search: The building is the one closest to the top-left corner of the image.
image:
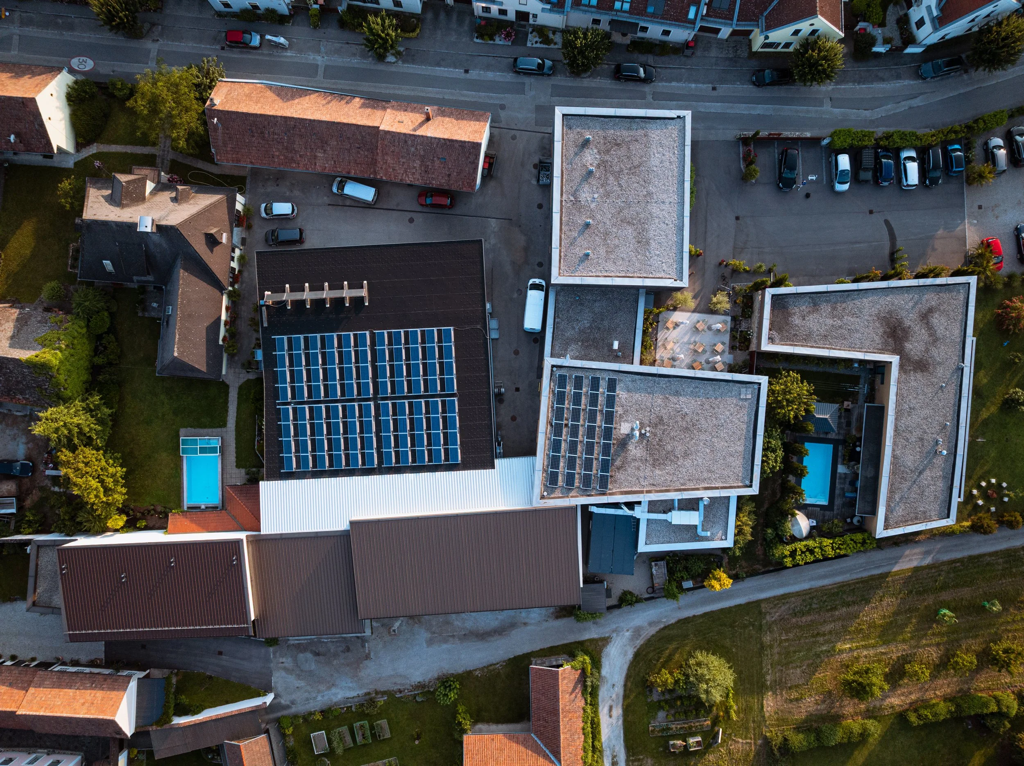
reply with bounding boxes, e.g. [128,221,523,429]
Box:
[0,62,82,164]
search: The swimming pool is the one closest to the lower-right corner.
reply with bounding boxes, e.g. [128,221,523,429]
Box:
[794,435,845,512]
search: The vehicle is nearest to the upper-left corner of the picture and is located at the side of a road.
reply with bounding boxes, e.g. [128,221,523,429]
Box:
[224,28,265,51]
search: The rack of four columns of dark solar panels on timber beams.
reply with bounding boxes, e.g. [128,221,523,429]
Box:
[544,373,620,492]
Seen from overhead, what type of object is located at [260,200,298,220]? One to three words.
car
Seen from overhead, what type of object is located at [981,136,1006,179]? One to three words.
car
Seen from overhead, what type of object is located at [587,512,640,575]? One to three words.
shed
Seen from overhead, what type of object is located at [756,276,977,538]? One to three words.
house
